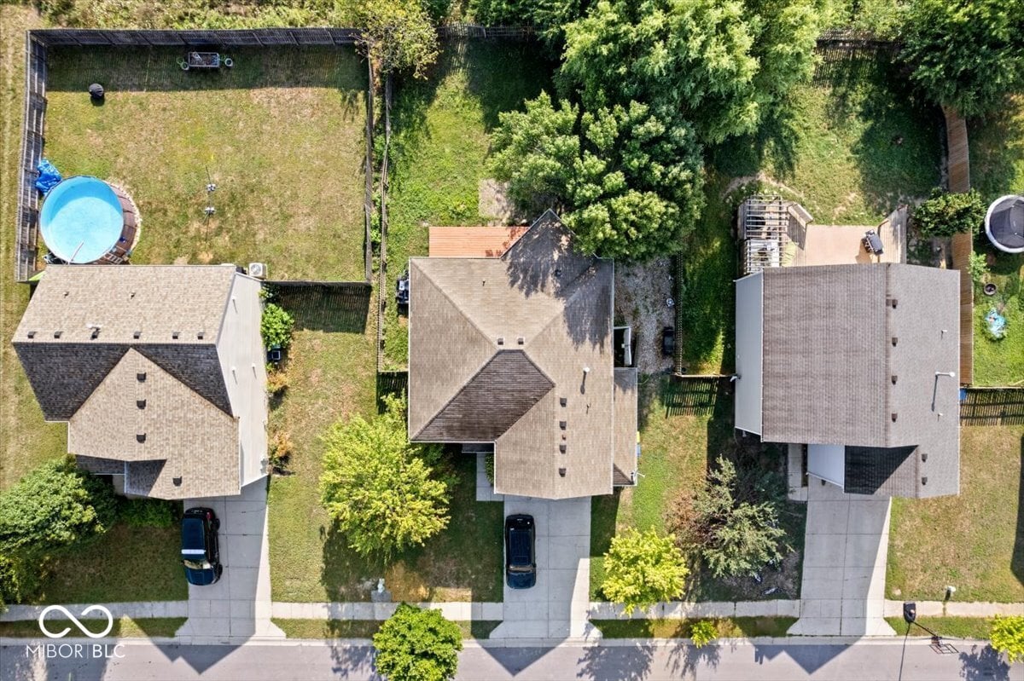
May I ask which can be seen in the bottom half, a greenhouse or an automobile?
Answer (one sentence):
The one visible in the bottom half is an automobile.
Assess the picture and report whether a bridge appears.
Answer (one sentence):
No, I can see no bridge in this picture.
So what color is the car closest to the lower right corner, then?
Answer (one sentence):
The car closest to the lower right corner looks black in the image.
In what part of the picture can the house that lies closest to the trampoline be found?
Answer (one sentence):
The house that lies closest to the trampoline appears toward the right of the photo.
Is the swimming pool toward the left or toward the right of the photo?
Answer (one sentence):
You can find the swimming pool on the left side of the picture.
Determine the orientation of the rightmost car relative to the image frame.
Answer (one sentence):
I'd say the rightmost car is aligned from top to bottom in the picture.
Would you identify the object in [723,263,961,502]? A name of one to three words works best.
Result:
house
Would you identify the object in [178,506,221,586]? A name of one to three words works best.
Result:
car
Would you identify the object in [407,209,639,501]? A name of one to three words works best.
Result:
house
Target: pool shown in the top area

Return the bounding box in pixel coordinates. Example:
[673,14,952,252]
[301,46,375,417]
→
[40,177,137,262]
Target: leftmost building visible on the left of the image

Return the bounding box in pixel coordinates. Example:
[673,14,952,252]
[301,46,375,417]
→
[14,262,269,501]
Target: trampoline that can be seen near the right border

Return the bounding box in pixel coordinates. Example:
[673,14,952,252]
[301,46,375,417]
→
[976,193,1024,255]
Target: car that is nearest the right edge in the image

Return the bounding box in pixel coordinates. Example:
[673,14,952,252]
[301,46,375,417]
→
[501,511,540,591]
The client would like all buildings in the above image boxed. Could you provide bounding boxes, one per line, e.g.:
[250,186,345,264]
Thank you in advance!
[723,263,961,502]
[14,262,269,501]
[407,209,639,501]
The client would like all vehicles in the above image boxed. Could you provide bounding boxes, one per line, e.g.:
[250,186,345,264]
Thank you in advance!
[501,511,540,591]
[178,506,221,586]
